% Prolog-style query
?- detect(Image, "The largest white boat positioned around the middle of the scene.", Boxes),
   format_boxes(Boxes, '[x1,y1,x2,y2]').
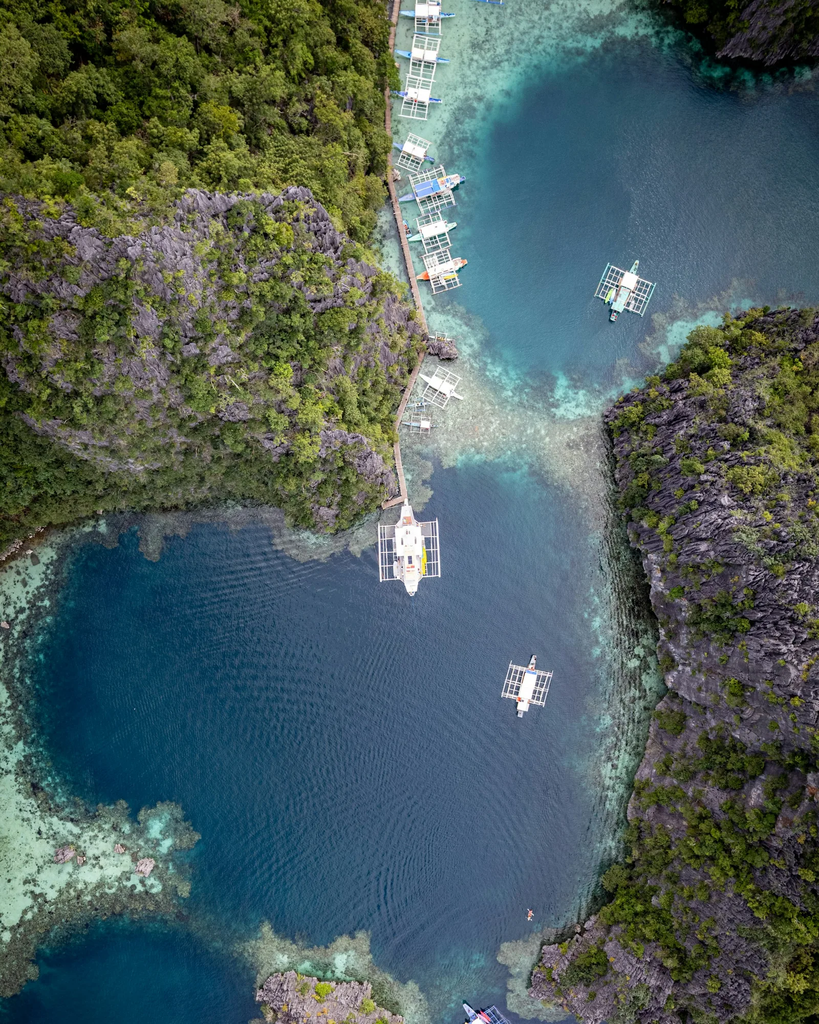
[374,499,441,596]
